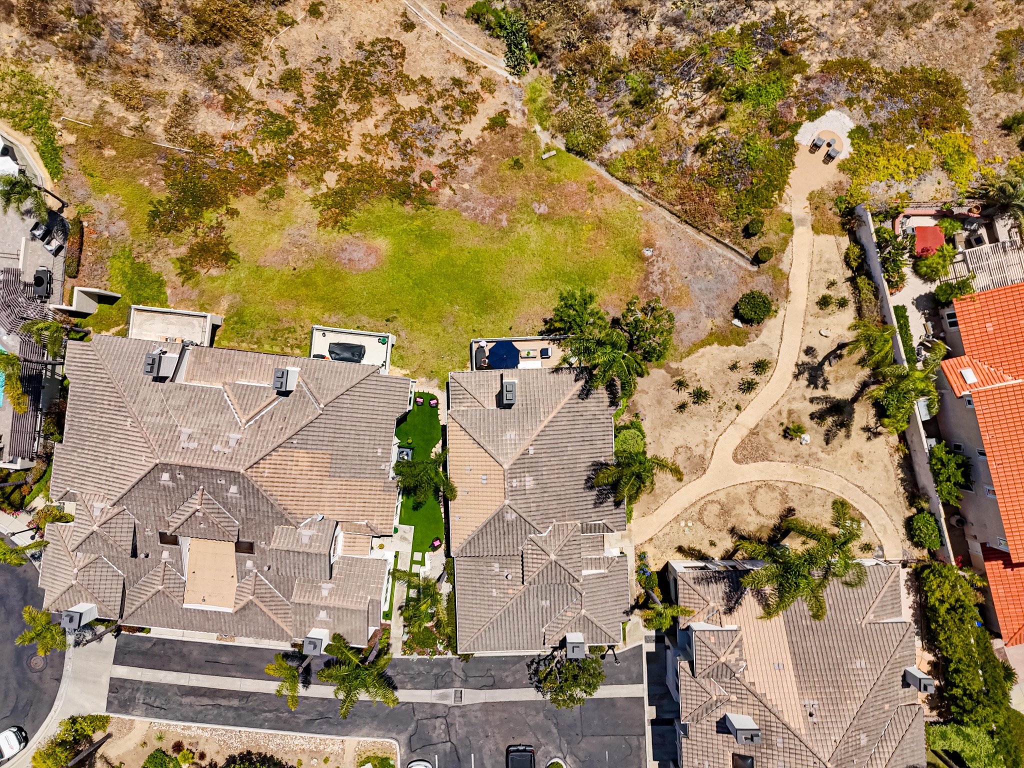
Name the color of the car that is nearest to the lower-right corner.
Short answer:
black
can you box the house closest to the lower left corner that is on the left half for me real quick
[38,333,418,656]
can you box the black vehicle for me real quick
[507,748,533,768]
